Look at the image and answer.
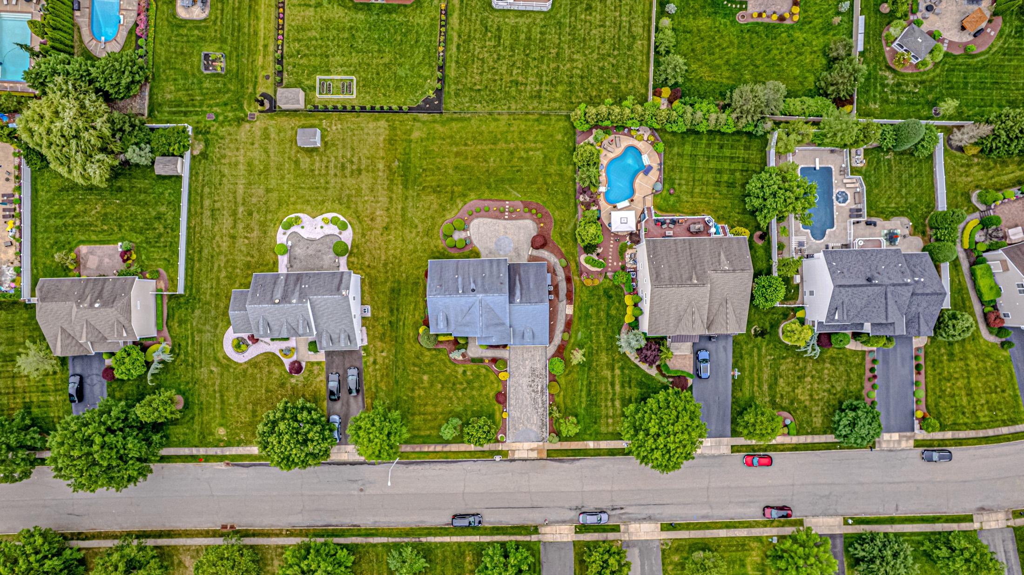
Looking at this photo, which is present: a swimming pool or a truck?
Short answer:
swimming pool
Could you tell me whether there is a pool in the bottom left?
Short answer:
No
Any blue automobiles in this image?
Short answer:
Yes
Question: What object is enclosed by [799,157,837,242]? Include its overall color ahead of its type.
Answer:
blue swimming pool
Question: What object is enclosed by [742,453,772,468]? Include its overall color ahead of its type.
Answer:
red car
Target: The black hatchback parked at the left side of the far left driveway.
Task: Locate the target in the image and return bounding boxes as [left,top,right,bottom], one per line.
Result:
[68,374,86,403]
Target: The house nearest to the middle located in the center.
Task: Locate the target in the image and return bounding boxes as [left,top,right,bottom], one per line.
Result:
[425,258,550,346]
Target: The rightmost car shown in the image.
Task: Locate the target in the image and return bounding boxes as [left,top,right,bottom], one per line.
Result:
[919,448,953,463]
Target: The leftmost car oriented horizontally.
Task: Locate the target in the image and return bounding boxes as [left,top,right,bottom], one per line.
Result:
[451,512,482,526]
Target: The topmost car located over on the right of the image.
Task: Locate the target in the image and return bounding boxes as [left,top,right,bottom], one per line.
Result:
[695,349,711,380]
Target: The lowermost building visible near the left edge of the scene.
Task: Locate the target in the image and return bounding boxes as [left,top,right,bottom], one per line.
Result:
[32,277,156,357]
